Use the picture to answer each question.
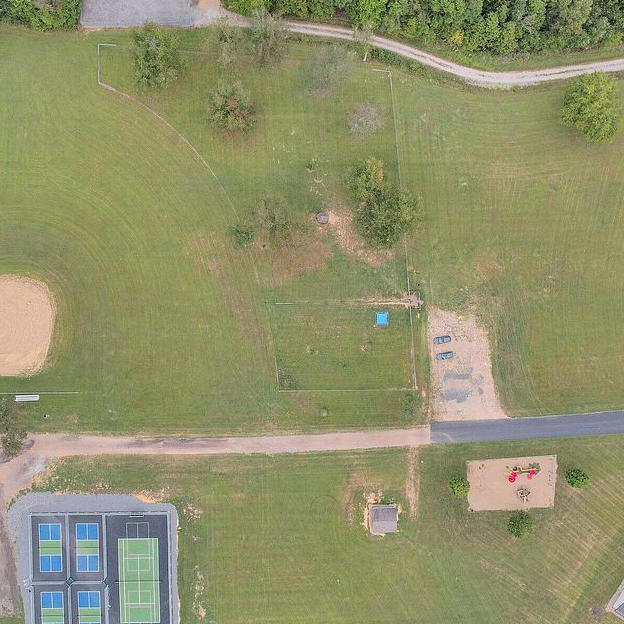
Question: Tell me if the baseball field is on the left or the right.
left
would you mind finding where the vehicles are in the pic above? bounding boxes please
[435,335,451,344]
[437,351,453,360]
